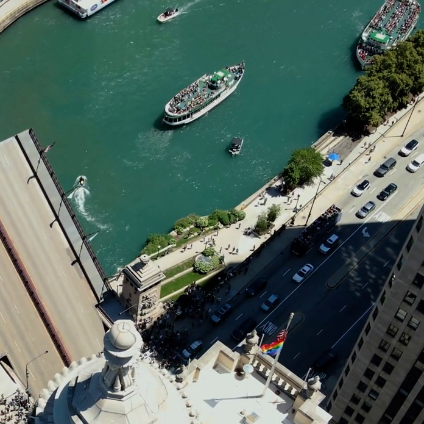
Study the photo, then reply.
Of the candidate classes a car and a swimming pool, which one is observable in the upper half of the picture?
car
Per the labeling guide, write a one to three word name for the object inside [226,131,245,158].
boat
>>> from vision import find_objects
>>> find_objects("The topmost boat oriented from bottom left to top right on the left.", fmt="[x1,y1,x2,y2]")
[158,6,181,23]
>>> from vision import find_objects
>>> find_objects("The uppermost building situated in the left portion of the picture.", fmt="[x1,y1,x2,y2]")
[117,255,168,328]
